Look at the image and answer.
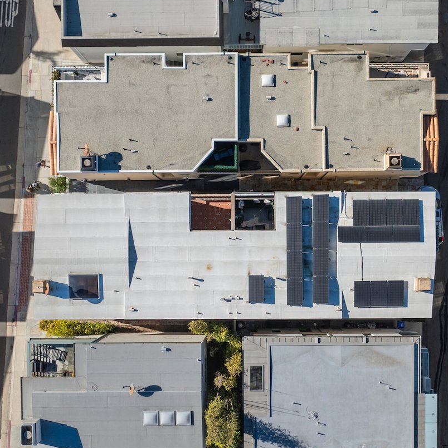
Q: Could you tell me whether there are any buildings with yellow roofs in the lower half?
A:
No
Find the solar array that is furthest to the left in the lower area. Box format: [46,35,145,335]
[246,276,267,303]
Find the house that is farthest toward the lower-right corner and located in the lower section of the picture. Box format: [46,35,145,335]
[242,330,437,448]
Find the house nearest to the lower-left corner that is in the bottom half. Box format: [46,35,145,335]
[21,335,207,448]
